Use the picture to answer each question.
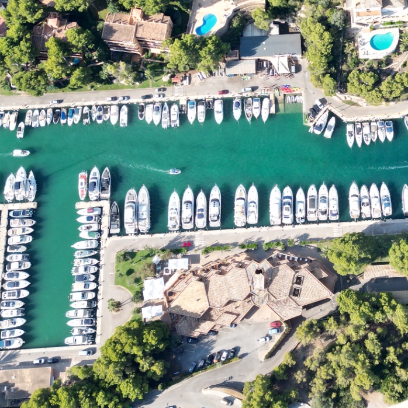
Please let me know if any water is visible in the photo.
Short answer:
Yes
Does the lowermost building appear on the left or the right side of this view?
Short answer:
left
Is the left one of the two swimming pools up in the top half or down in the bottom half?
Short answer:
top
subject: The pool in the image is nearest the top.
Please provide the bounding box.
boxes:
[196,11,218,33]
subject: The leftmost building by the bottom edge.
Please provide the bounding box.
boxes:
[0,367,55,405]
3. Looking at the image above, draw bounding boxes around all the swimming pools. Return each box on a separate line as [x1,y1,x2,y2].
[196,11,218,33]
[369,31,394,51]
